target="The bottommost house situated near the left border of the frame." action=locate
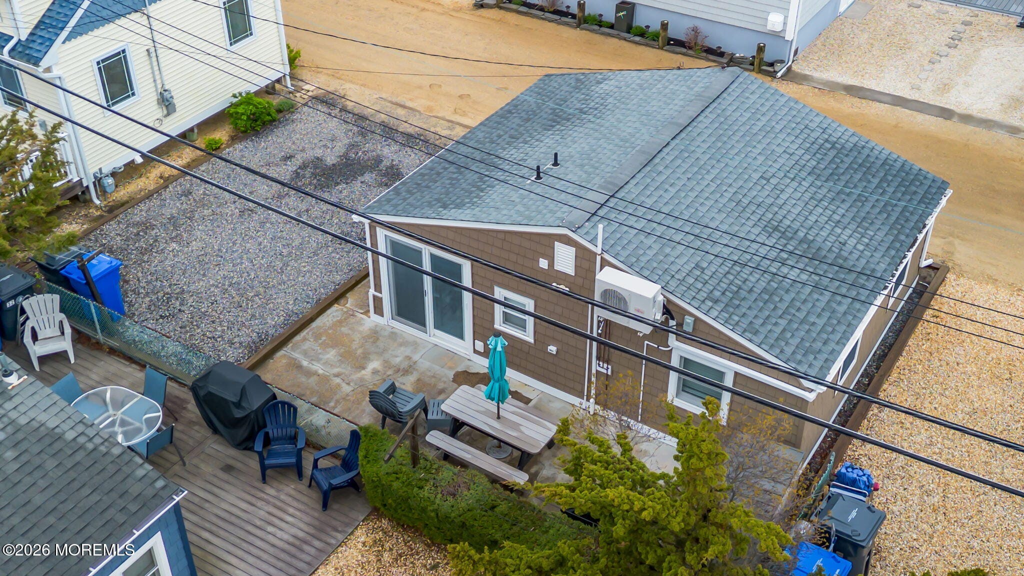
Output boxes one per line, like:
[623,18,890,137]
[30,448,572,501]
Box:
[0,332,195,576]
